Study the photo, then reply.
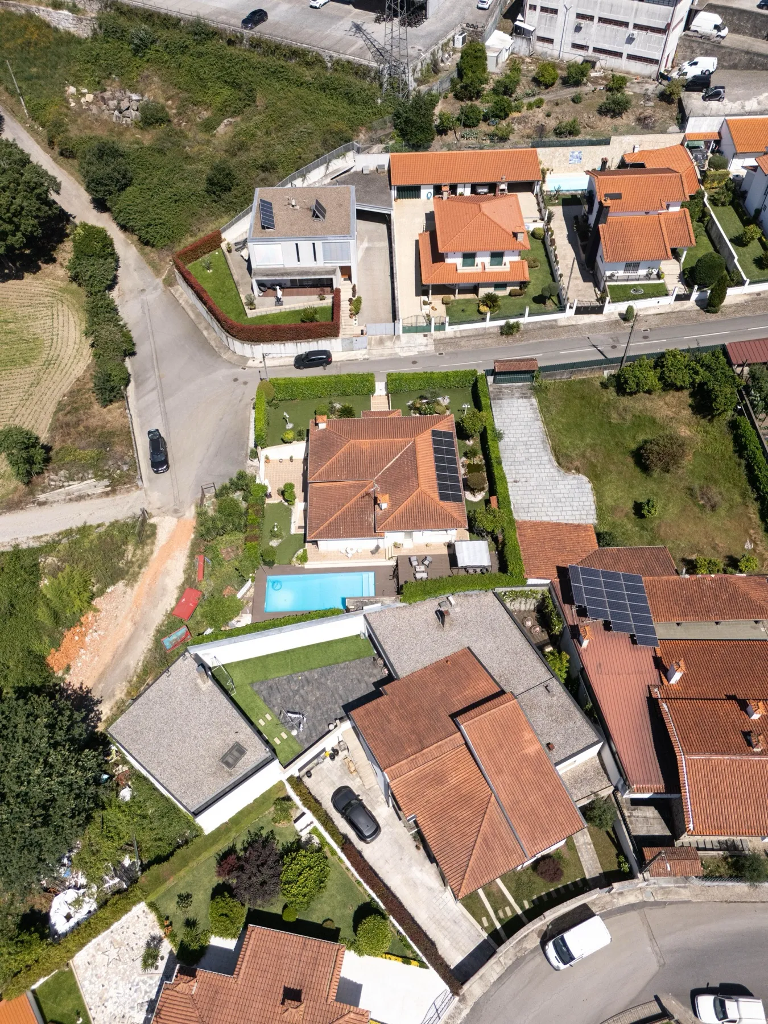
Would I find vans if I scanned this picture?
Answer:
Yes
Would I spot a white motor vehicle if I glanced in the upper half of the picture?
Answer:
Yes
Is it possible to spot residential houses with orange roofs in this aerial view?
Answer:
Yes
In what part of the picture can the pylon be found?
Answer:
top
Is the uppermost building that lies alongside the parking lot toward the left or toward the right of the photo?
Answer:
right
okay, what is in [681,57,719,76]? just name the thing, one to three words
vehicle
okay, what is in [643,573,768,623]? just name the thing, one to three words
shed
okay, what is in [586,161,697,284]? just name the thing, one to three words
house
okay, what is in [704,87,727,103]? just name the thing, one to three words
car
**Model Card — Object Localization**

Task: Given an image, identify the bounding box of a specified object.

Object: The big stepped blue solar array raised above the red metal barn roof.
[569,565,657,650]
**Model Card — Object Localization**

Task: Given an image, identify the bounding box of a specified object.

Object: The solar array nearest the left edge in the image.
[260,199,275,235]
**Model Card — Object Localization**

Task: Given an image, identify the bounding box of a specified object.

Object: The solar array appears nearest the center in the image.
[432,430,463,502]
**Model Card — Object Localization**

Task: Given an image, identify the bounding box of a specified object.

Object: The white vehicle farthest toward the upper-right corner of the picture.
[698,11,732,41]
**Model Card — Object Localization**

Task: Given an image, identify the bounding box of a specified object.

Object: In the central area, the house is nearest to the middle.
[306,409,469,551]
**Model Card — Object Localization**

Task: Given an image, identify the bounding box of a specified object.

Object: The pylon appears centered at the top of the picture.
[383,0,414,105]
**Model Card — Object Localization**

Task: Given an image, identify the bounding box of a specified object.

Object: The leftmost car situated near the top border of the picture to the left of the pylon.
[241,8,268,26]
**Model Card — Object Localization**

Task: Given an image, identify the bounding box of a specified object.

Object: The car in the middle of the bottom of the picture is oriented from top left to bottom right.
[330,781,383,846]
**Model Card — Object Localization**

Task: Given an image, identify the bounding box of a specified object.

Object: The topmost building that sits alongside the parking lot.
[518,0,698,81]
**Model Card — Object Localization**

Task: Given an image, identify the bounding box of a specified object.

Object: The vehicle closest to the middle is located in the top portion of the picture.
[292,346,335,368]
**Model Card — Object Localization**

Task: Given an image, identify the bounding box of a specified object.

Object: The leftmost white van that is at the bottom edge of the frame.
[546,915,619,974]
